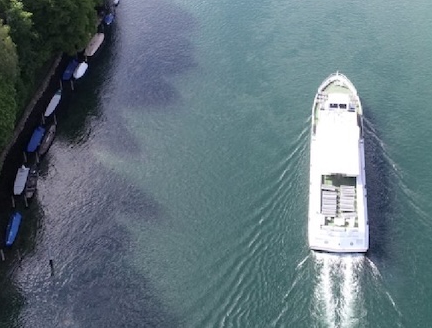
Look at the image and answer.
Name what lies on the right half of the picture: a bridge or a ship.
ship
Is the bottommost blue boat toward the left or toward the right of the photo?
left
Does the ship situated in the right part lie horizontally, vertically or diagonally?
vertically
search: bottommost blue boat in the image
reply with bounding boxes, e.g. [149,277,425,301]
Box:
[1,209,22,246]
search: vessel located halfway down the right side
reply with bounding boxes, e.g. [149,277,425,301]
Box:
[308,68,369,260]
